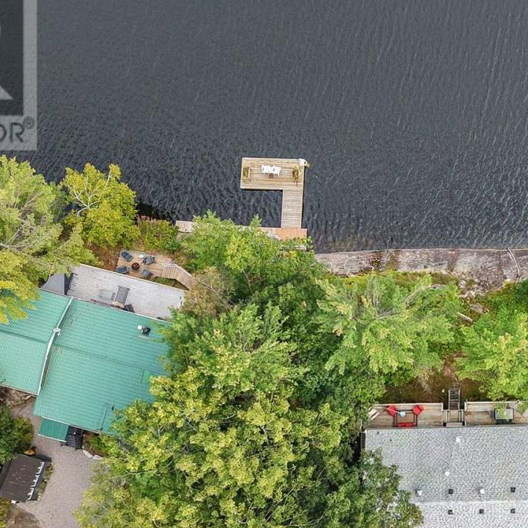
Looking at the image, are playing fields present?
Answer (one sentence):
No, no playing field can be seen from above.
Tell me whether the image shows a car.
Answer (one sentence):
No, there isn't any car down there.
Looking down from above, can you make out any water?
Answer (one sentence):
Yes, water shows up in the scene.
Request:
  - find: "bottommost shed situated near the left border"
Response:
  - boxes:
[2,453,57,502]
